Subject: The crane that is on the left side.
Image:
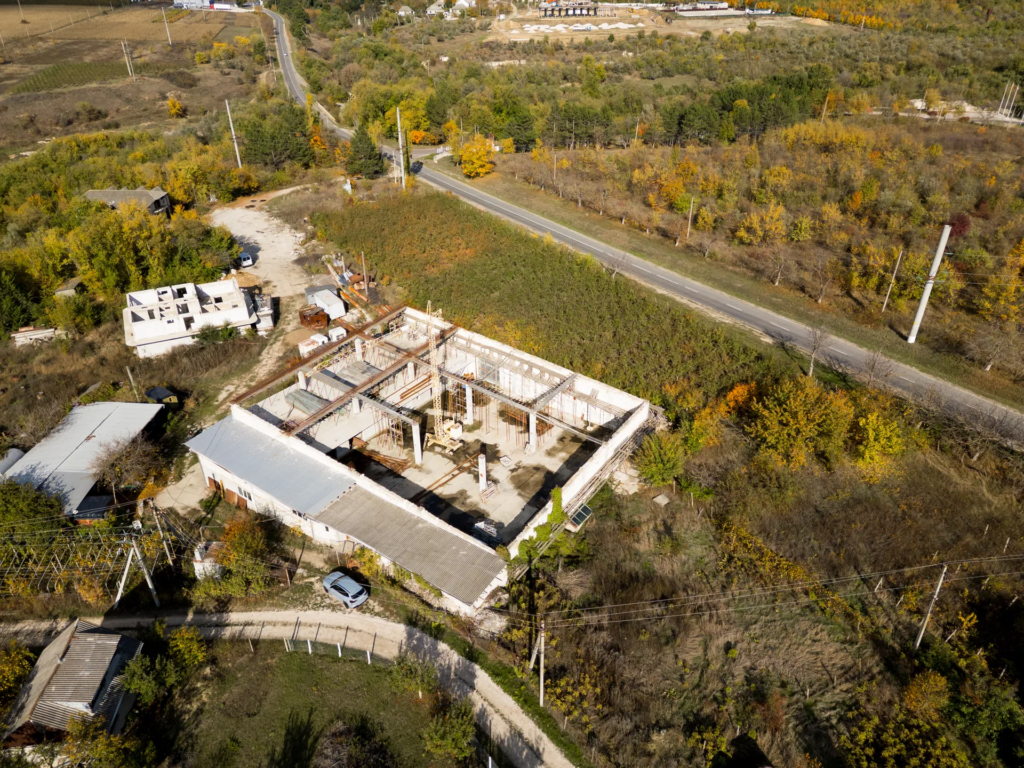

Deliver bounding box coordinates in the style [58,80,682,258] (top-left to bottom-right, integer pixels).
[309,304,472,455]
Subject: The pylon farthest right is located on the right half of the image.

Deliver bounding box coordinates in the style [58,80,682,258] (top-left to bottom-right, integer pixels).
[907,226,952,343]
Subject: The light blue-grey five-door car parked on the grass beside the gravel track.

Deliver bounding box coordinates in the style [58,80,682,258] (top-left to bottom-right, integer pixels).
[322,572,367,608]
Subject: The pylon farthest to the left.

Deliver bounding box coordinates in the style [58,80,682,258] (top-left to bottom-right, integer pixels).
[223,100,242,165]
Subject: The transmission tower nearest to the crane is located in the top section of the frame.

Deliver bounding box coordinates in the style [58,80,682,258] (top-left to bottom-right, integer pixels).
[392,106,410,188]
